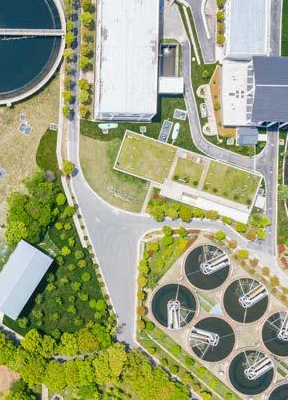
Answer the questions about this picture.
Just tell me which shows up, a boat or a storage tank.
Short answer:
storage tank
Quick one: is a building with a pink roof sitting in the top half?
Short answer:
No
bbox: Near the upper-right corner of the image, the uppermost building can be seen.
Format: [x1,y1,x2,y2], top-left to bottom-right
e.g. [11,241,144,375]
[226,0,270,62]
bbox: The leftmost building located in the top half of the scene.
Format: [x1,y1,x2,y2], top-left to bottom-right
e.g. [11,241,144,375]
[97,0,160,120]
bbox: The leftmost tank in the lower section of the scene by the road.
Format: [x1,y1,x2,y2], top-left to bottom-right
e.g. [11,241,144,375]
[147,280,200,333]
